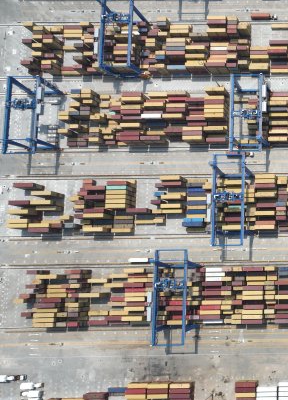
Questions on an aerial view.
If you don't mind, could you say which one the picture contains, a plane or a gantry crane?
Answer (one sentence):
Of the two, only a gantry crane appears.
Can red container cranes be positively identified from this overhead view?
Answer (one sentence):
No, there isn't any red container crane down there.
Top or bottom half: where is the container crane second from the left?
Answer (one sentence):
The container crane second from the left is in the top half of the image.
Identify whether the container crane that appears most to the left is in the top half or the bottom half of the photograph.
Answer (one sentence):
The container crane that appears most to the left sits in the top half of the picture.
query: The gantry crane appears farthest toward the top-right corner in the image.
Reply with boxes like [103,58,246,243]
[229,74,273,151]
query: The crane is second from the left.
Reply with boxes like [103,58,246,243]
[95,0,152,78]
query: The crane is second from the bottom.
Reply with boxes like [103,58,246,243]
[207,154,256,245]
